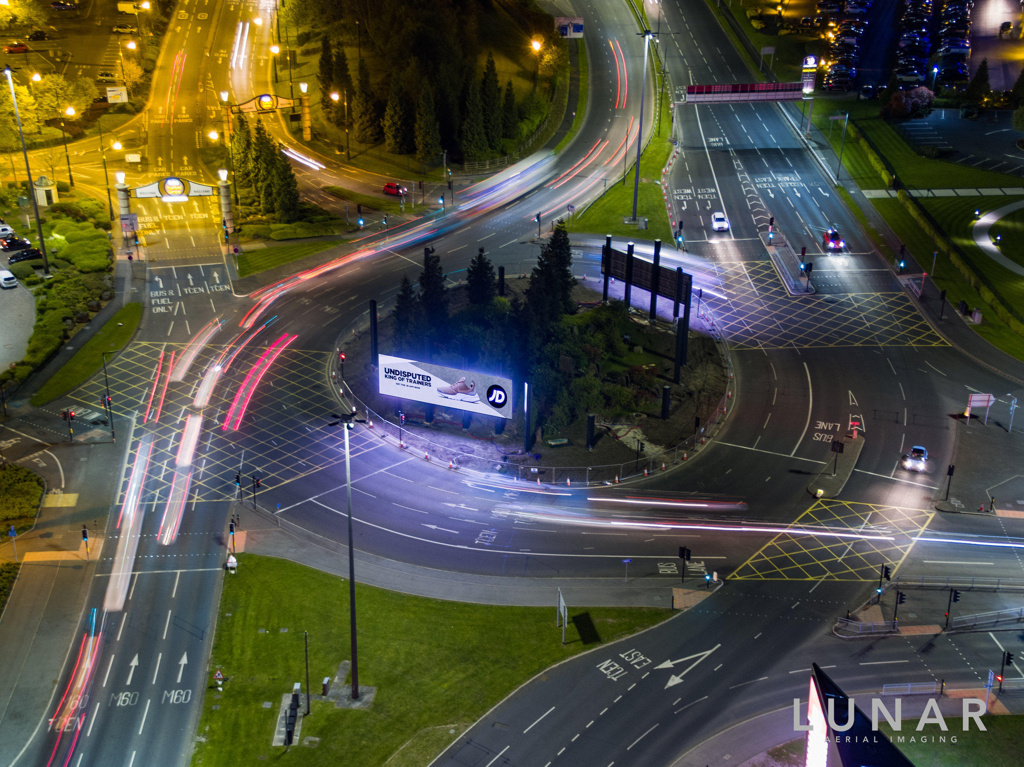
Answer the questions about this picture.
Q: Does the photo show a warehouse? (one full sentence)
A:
No, no warehouse is visible in the view.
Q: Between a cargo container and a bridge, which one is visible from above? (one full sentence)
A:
There is a bridge in the scene.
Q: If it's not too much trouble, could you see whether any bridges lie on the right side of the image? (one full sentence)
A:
Yes, on the right side of the image there is a bridge.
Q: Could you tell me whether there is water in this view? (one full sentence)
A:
No, the picture contains no water.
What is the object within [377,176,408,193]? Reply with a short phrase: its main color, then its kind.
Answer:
red car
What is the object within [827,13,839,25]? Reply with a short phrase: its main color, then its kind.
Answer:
black vehicle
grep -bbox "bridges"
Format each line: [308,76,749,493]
[667,81,817,139]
